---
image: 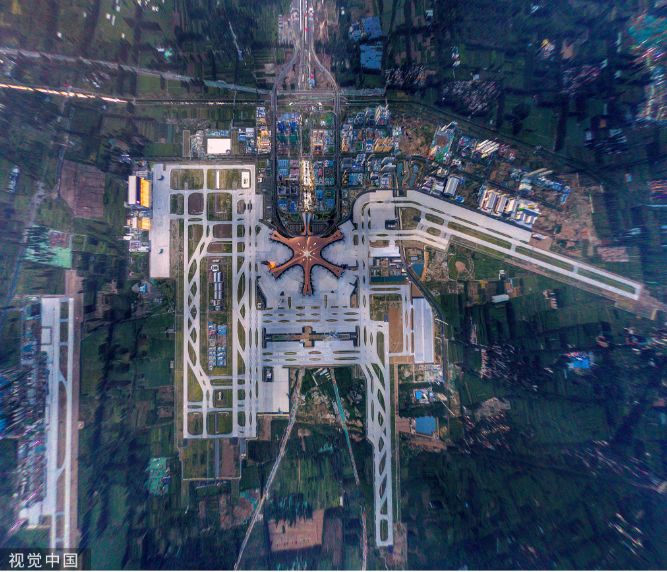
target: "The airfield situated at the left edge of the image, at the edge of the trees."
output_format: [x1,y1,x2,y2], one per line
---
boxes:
[19,298,73,550]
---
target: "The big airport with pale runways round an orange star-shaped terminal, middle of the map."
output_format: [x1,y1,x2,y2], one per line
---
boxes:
[149,164,640,546]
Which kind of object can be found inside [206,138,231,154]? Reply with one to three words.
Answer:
hangar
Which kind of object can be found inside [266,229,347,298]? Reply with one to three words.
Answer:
building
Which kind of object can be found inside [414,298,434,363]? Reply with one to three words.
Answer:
hangar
